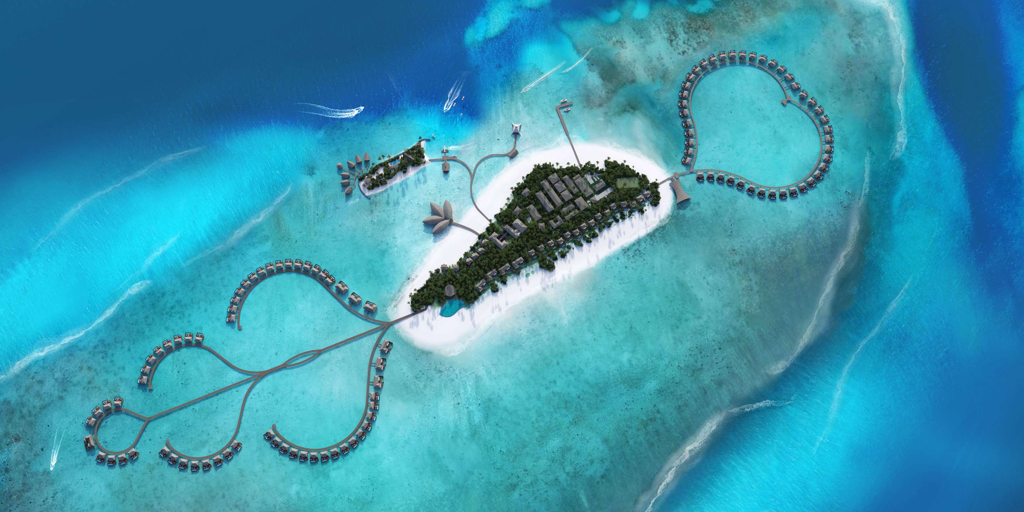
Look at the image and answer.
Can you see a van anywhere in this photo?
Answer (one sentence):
No, no van is visible in the scene.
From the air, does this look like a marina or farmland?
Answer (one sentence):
It's a marina.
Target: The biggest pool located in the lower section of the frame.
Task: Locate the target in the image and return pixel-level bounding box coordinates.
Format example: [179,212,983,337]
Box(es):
[439,299,467,317]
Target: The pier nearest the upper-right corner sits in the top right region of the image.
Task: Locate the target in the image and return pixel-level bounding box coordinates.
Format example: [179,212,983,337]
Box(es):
[689,60,823,188]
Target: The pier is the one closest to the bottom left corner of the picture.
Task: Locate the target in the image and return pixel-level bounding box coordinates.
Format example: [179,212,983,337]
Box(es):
[95,408,149,454]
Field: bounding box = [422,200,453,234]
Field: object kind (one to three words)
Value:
building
